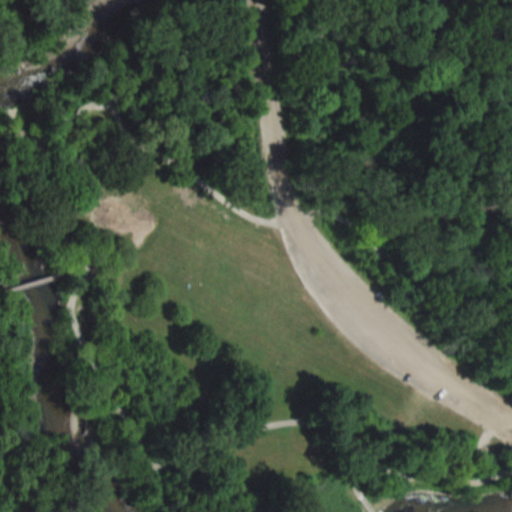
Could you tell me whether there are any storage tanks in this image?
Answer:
No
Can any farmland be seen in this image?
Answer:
No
